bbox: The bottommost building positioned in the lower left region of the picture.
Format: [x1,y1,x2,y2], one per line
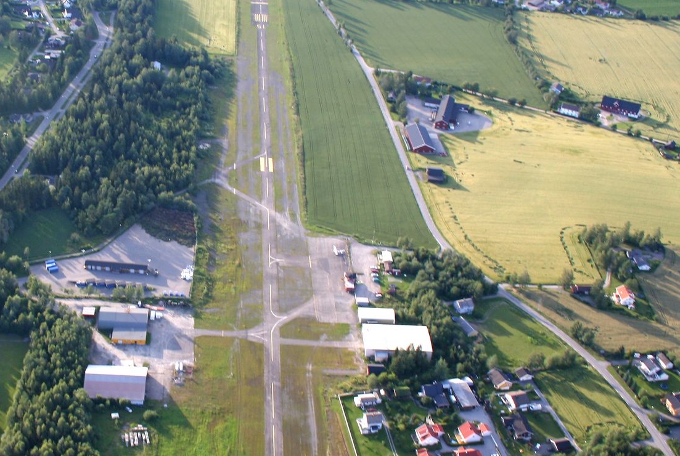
[82,366,148,405]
